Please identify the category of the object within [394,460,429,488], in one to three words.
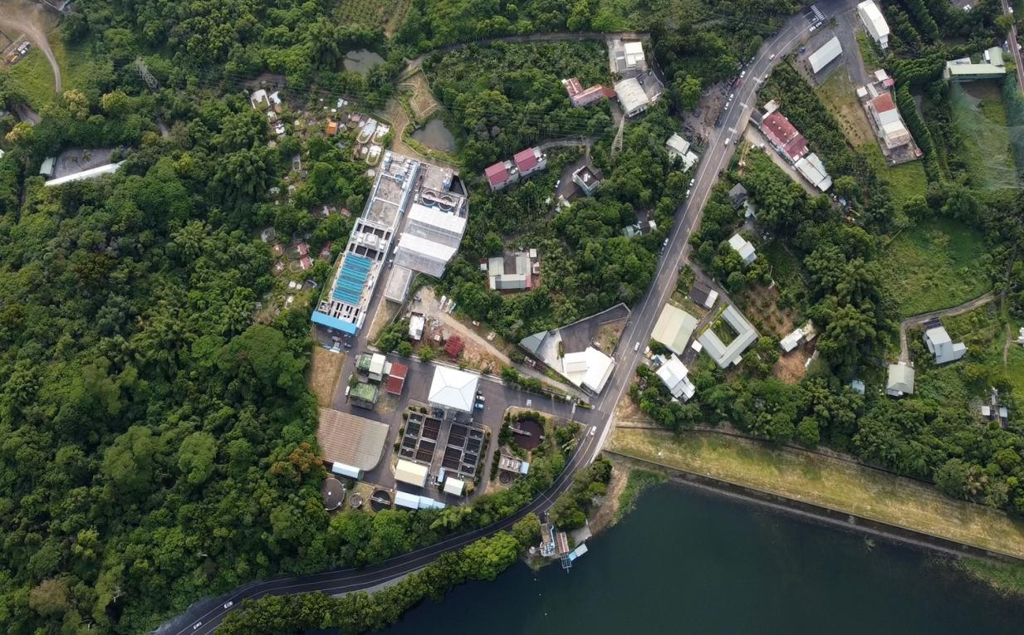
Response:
shed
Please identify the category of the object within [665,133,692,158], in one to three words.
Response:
building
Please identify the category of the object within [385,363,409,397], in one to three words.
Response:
house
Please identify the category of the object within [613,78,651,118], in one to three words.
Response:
building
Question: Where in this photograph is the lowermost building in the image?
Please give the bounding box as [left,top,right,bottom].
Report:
[539,523,555,557]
